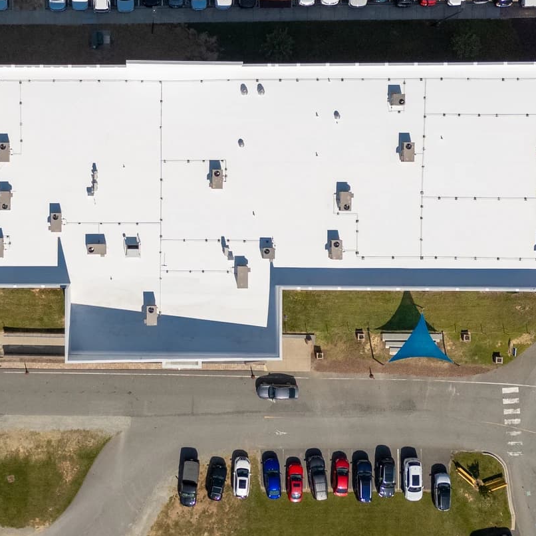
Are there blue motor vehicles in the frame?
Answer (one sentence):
Yes, there's a blue motor vehicle down there.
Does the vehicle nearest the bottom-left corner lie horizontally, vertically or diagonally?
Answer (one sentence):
What the image shows is the vehicle nearest the bottom-left corner lying vertically.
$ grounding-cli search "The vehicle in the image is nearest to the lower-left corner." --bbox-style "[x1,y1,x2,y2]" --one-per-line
[179,459,198,507]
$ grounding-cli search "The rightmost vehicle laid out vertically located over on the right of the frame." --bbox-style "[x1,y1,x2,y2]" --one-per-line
[432,472,451,511]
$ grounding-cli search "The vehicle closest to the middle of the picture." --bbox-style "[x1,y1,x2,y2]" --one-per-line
[257,382,298,400]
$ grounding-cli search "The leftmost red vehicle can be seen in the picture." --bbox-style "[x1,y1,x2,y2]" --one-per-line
[287,463,304,502]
